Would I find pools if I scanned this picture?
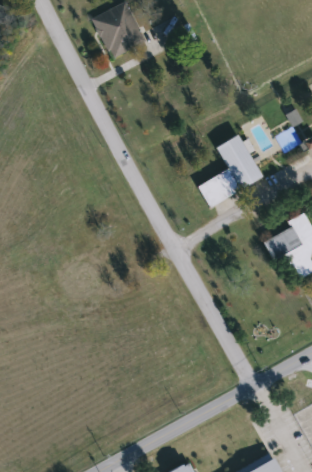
Yes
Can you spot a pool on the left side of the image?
No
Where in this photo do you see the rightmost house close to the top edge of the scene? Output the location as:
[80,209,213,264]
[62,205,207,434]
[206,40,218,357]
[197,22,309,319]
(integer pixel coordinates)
[92,2,145,58]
